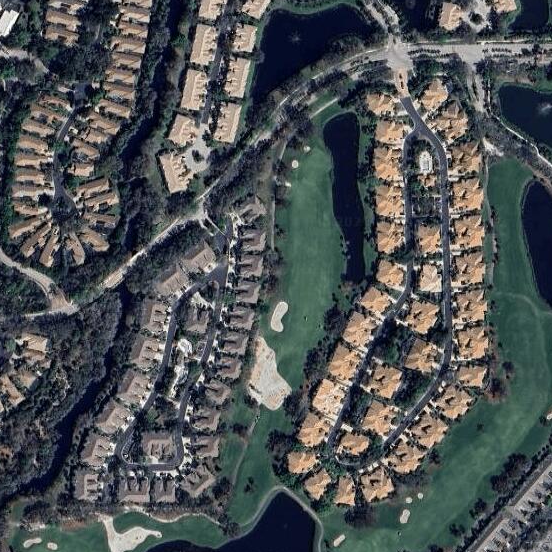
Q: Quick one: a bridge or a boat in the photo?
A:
bridge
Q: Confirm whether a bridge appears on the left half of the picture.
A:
Yes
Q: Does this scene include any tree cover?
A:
Yes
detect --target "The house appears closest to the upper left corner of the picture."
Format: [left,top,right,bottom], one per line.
[0,10,19,40]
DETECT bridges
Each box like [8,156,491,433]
[97,253,140,293]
